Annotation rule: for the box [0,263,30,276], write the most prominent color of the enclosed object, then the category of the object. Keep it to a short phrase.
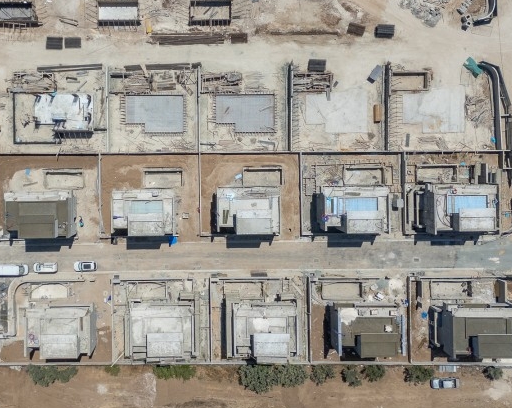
white vehicle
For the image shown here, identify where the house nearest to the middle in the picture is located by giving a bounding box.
[213,184,280,234]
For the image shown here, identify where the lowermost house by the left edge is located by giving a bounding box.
[25,302,97,358]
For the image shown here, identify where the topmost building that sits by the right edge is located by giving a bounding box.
[416,182,498,231]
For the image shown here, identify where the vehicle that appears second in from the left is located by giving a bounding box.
[33,260,58,273]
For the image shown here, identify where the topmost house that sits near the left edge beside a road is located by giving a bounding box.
[0,188,77,239]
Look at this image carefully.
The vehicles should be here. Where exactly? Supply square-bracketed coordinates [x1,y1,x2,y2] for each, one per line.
[74,260,98,273]
[0,263,30,276]
[429,376,458,390]
[33,260,58,273]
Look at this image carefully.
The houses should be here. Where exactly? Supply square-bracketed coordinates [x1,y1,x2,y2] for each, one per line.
[434,301,512,356]
[25,302,97,358]
[330,301,405,355]
[315,183,389,234]
[0,188,77,239]
[213,184,280,234]
[231,298,296,362]
[130,297,192,362]
[111,186,175,236]
[416,182,498,231]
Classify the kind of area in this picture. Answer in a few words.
residential area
